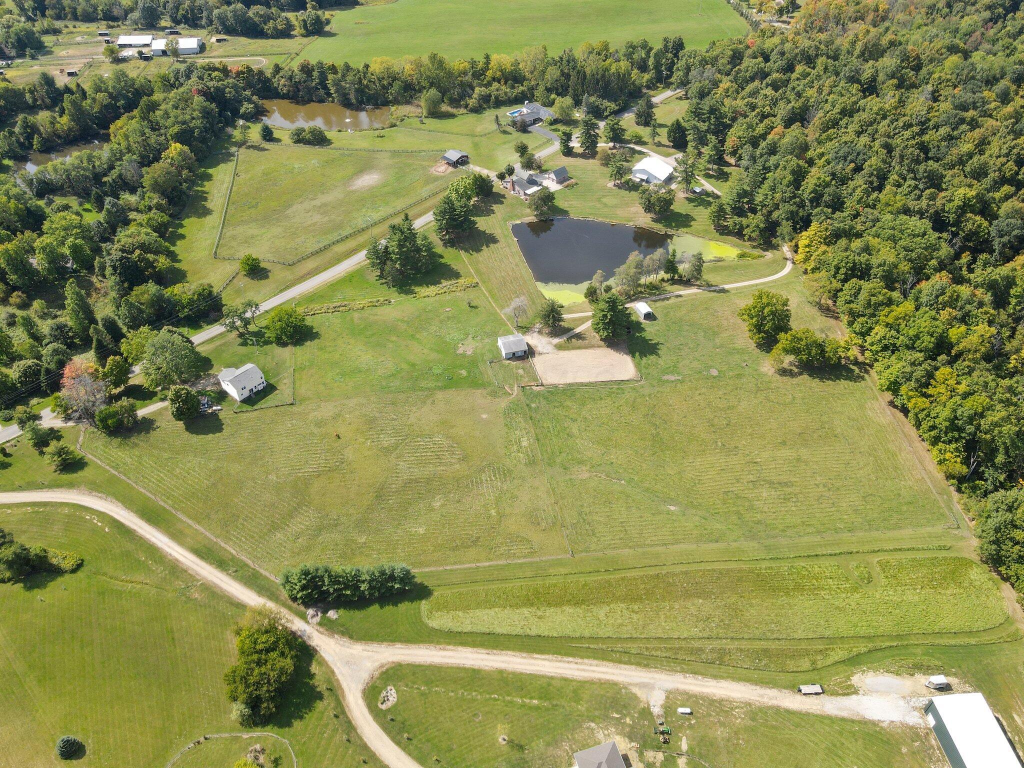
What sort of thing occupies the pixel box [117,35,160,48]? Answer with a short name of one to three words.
barn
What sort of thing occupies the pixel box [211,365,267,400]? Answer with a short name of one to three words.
house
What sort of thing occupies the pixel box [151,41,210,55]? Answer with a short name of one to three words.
barn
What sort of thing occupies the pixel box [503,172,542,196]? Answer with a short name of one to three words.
house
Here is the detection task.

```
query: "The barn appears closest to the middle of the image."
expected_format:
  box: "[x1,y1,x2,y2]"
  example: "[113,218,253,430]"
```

[498,334,528,358]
